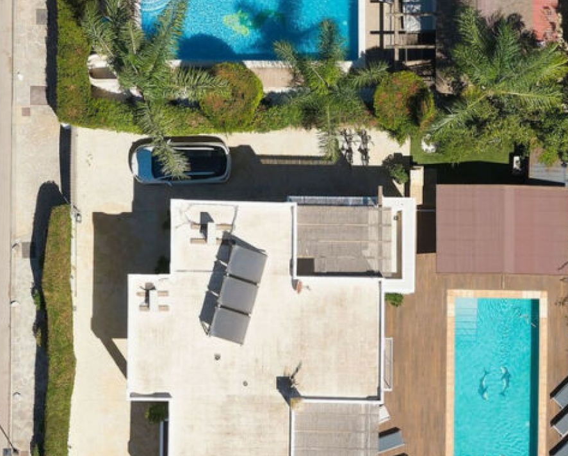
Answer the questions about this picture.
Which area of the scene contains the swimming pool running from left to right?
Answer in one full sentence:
The swimming pool running from left to right sits in the top section of the image.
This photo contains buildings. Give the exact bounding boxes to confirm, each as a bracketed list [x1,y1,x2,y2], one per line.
[127,197,415,456]
[434,184,568,277]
